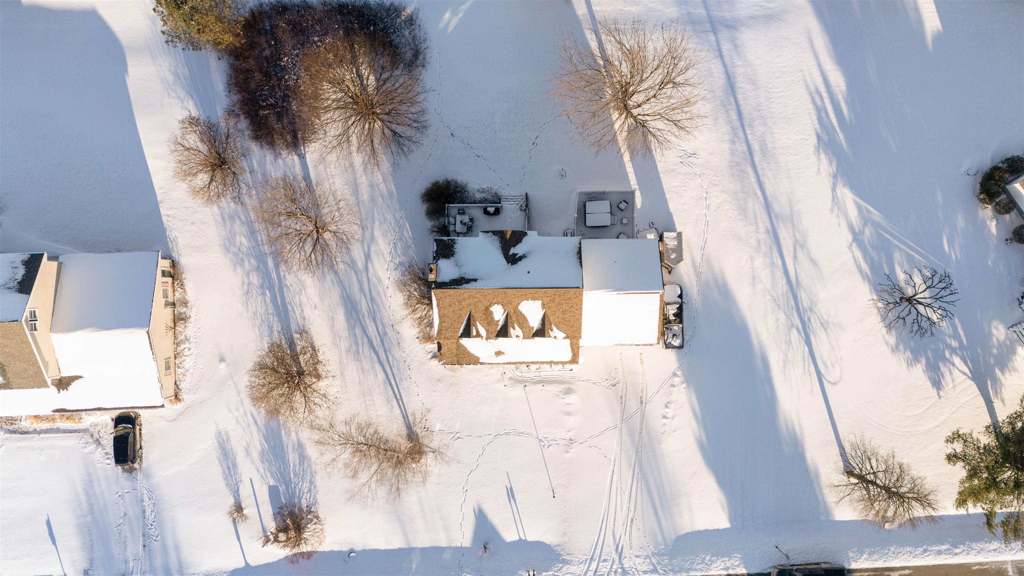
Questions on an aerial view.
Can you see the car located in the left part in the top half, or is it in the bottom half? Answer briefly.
bottom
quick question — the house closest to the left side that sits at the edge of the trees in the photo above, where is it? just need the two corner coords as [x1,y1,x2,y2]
[0,250,178,411]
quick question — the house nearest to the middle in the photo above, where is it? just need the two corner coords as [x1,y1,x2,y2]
[428,230,665,366]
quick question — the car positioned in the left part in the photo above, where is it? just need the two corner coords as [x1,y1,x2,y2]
[108,409,140,467]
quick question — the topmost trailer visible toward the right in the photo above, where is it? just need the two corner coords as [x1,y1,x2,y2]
[659,232,683,276]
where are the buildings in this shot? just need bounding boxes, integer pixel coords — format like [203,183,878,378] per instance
[999,175,1024,233]
[0,250,178,411]
[428,230,665,366]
